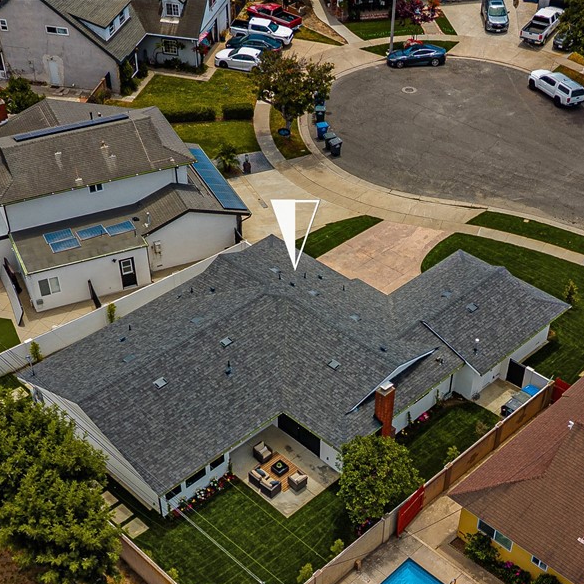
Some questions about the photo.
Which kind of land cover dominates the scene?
buildings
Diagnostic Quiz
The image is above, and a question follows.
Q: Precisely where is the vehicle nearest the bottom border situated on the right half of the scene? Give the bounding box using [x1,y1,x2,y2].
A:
[529,69,584,104]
